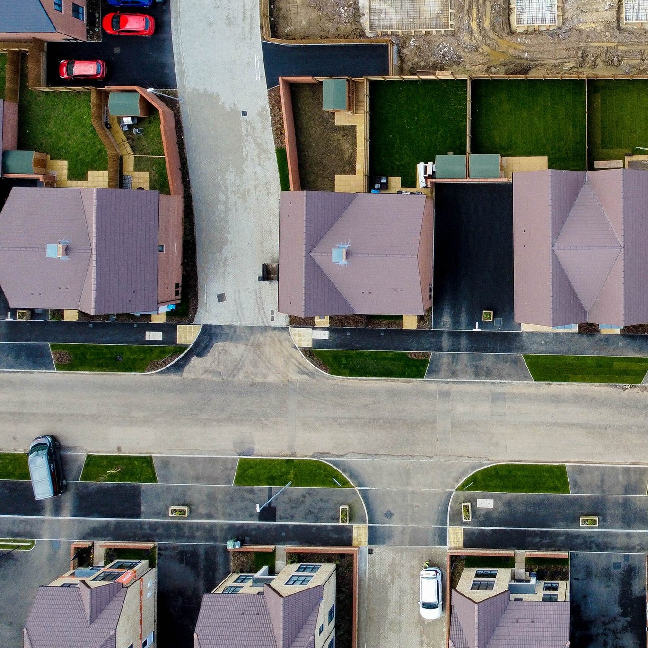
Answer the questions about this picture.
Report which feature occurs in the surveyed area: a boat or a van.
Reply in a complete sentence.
It is a van that can be seen here.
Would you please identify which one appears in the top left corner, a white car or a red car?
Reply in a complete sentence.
You can see a red car in the top left corner.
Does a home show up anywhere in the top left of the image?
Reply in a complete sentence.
Yes, a home can be seen in the top left of the image.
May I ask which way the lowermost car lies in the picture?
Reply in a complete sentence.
From this overhead view, the lowermost car appears to run vertically.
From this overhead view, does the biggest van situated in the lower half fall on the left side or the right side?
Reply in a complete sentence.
It is on the left.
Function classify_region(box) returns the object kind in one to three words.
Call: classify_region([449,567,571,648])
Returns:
house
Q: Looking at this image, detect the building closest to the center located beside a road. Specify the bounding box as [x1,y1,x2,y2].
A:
[277,191,435,318]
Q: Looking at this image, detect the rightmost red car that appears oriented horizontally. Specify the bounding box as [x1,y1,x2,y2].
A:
[103,9,157,37]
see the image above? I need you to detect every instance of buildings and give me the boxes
[323,79,352,112]
[469,154,501,178]
[23,561,157,648]
[434,155,468,178]
[0,186,184,318]
[198,560,337,648]
[277,191,435,318]
[0,98,37,180]
[109,92,151,118]
[513,169,648,327]
[449,567,571,648]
